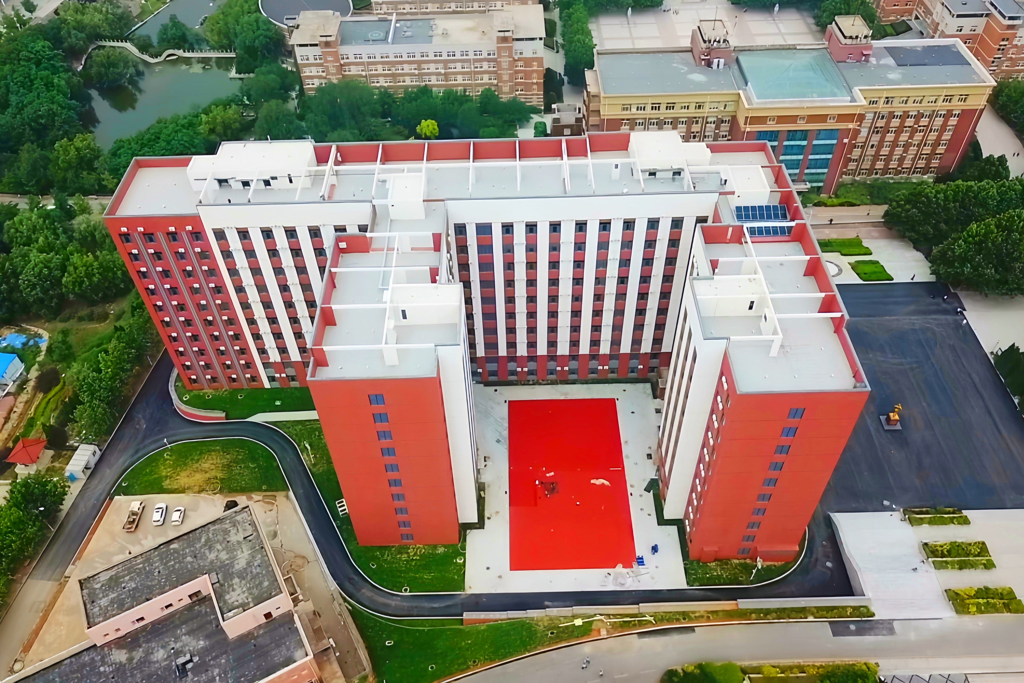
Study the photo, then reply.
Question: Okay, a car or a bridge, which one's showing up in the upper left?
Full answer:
What appears in the upper left is a bridge.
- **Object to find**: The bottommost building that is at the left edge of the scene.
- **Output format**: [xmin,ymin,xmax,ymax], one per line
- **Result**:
[0,503,317,683]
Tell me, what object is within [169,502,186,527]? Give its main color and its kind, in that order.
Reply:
white car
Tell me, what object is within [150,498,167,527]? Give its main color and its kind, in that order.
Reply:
white car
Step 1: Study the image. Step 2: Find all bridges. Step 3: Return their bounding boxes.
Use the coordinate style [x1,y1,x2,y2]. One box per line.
[75,38,222,70]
